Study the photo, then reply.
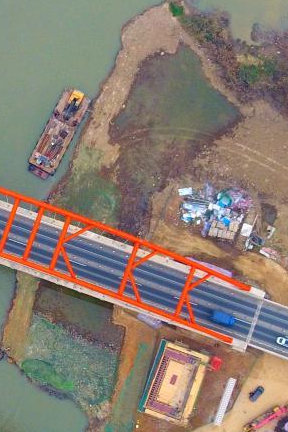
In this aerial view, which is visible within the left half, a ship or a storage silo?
ship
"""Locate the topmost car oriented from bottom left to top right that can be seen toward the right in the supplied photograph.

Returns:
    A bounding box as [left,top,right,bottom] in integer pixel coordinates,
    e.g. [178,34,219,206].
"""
[248,385,267,402]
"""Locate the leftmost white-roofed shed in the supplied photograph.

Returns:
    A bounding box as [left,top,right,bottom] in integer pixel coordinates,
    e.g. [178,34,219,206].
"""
[212,377,237,427]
